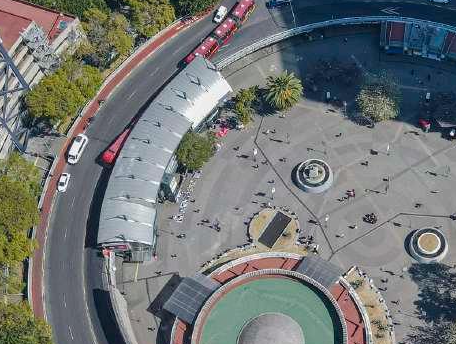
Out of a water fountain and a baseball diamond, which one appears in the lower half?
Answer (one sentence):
Visible in the lower half is a water fountain.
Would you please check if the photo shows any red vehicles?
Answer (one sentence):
Yes, there's a red vehicle down there.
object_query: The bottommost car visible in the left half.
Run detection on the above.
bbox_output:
[57,173,71,193]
